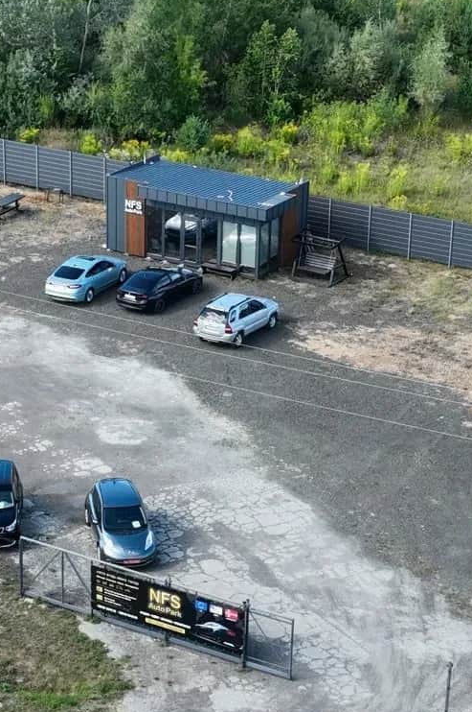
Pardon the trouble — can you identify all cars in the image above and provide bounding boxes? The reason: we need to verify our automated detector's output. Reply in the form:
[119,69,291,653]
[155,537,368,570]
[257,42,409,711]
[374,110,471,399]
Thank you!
[42,254,131,303]
[83,472,158,565]
[190,288,283,346]
[113,264,206,312]
[0,461,31,556]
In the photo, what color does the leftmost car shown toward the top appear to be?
blue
